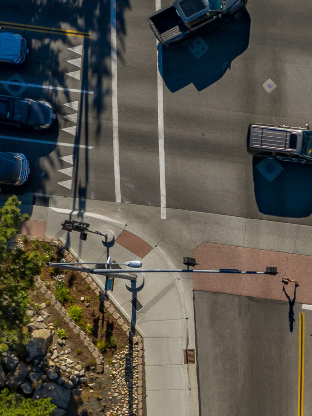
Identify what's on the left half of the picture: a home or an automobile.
automobile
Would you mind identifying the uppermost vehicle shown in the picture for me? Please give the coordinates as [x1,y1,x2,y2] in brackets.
[148,0,251,49]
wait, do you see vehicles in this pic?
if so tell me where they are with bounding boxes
[0,31,30,67]
[245,122,312,164]
[0,90,59,132]
[148,0,251,49]
[0,150,33,185]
